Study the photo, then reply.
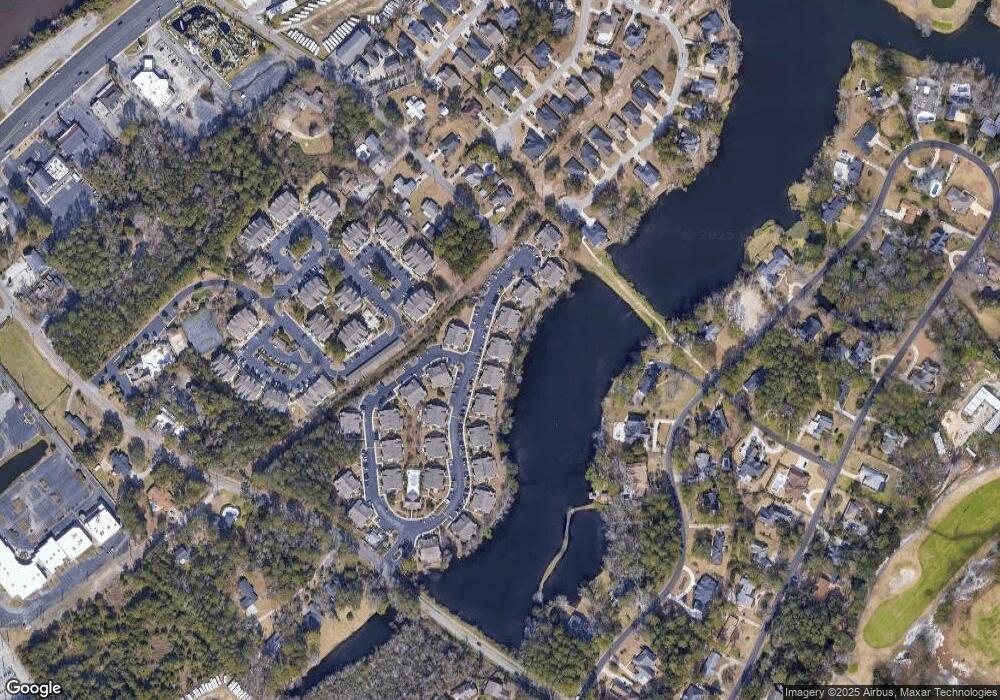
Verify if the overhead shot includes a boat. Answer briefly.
No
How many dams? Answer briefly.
2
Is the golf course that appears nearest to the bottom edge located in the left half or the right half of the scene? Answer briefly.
right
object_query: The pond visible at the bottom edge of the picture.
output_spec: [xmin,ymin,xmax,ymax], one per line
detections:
[286,608,396,699]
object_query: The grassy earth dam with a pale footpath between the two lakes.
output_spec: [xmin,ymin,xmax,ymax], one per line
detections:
[593,258,676,348]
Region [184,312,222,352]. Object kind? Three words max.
tennis court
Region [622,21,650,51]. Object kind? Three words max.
house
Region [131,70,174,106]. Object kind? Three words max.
building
